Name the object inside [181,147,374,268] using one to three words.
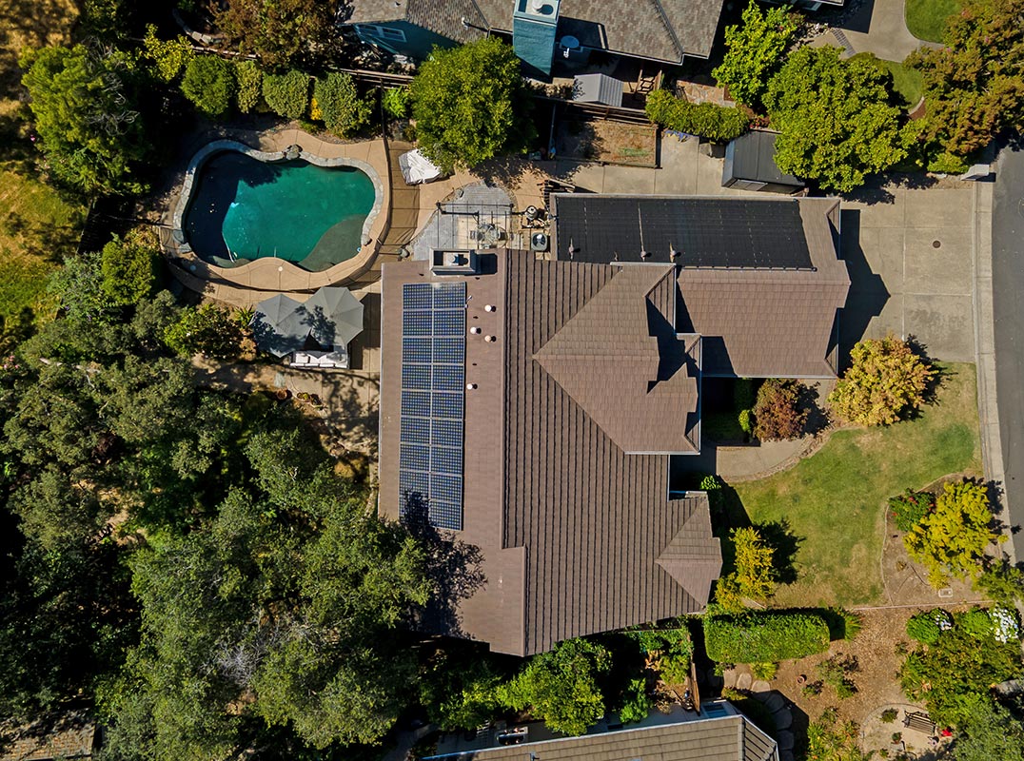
swimming pool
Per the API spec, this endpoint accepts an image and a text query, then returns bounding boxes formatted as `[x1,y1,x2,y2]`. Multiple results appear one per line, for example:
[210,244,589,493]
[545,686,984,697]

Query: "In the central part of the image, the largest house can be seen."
[381,193,852,657]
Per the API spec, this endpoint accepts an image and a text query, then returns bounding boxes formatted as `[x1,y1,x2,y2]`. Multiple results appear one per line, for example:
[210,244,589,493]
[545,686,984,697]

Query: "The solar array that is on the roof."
[401,277,465,534]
